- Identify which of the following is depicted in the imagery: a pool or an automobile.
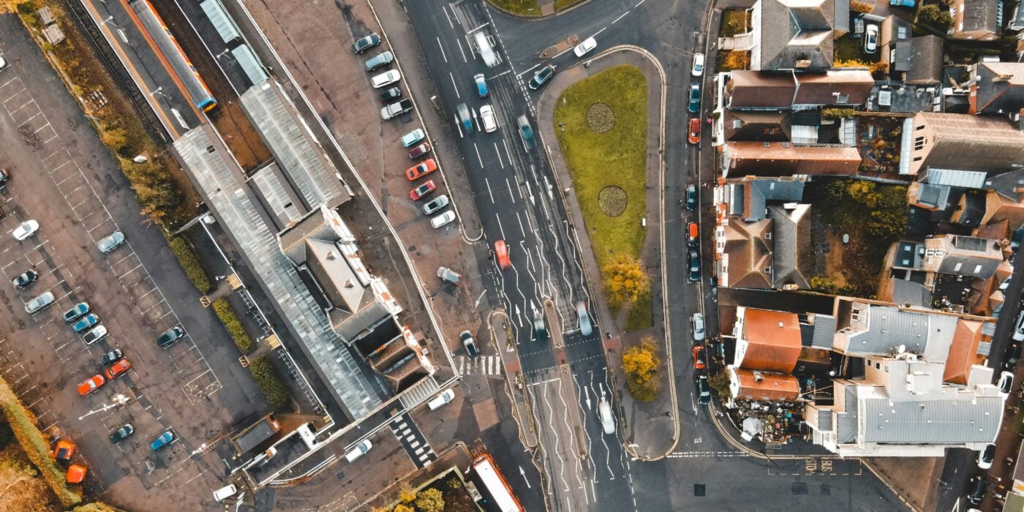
automobile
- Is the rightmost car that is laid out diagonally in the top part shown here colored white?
Yes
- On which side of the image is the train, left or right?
left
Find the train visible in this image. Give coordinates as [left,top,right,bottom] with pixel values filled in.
[123,0,218,116]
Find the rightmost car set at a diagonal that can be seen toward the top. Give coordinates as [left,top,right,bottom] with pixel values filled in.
[572,34,599,59]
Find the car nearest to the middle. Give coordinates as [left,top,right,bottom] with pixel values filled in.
[493,238,511,268]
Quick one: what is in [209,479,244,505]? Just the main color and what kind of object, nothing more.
white vehicle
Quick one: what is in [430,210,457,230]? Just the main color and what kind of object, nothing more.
white car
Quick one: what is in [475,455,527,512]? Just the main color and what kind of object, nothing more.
white bus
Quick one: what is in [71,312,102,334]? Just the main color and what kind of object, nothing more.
blue car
